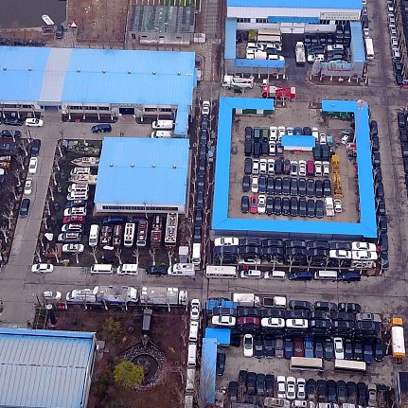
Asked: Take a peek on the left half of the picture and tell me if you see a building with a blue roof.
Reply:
Yes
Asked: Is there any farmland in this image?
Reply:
No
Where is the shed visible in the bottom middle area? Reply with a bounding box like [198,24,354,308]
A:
[201,337,216,407]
